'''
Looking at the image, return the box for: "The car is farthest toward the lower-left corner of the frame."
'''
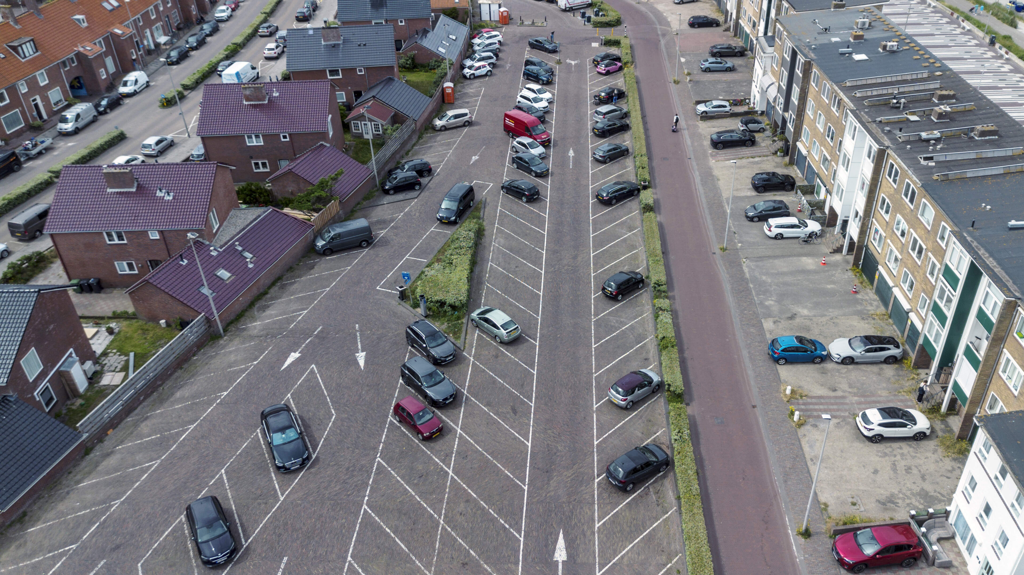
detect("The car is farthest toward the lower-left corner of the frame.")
[186,492,233,567]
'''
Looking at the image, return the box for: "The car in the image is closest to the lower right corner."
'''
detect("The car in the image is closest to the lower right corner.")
[832,523,931,574]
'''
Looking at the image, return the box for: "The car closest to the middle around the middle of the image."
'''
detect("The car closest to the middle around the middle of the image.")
[468,306,521,344]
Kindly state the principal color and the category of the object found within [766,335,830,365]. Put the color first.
blue car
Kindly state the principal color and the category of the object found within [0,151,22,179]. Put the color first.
black vehicle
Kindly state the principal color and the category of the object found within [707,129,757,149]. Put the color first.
black car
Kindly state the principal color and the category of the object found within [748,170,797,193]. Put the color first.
black car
